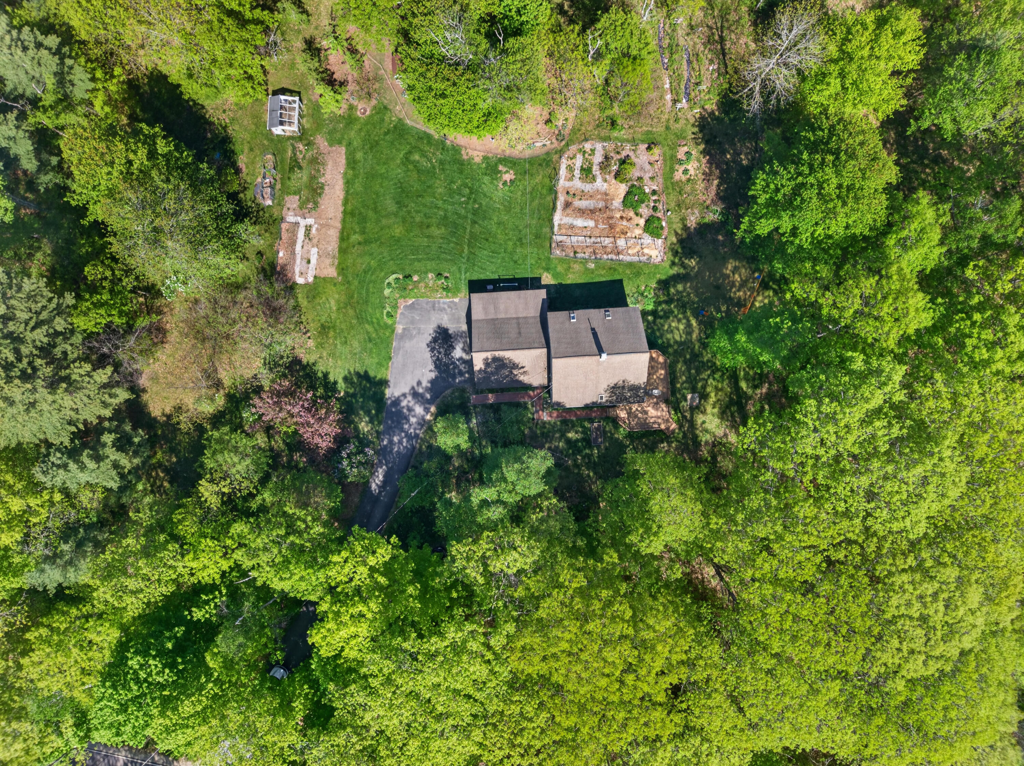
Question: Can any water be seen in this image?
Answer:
No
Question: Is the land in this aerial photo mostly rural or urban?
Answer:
rural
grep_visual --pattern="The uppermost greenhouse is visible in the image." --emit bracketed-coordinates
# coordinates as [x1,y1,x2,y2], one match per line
[267,92,304,135]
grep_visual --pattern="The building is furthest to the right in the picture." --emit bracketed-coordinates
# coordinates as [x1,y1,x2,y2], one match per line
[546,304,649,409]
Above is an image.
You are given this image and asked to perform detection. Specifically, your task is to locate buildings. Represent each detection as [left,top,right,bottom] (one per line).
[468,289,548,389]
[267,92,304,135]
[546,304,649,409]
